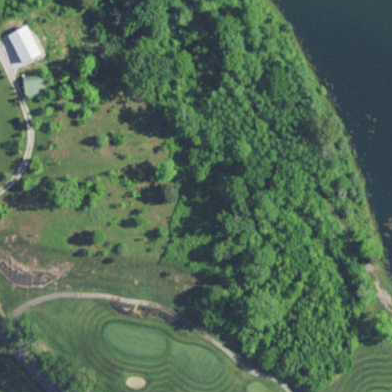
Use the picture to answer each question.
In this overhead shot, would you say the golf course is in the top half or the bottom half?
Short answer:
bottom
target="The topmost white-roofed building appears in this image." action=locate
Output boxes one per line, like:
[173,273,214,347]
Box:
[8,26,42,64]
